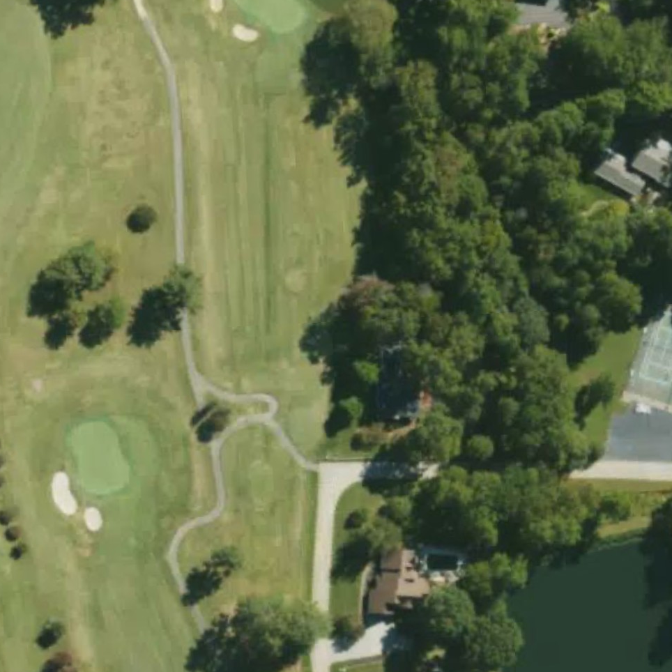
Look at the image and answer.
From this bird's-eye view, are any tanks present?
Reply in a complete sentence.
No, the photo shows no tank.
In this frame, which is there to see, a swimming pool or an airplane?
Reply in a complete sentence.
The image shows a swimming pool.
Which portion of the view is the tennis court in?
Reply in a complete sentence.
The tennis court sits in the right section of the image.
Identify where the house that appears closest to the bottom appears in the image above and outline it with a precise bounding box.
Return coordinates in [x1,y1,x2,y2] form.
[369,549,432,614]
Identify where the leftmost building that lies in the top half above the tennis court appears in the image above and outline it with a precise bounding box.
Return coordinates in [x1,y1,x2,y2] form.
[595,155,646,199]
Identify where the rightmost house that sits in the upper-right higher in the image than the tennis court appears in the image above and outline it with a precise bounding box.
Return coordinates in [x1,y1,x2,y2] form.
[630,136,672,191]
